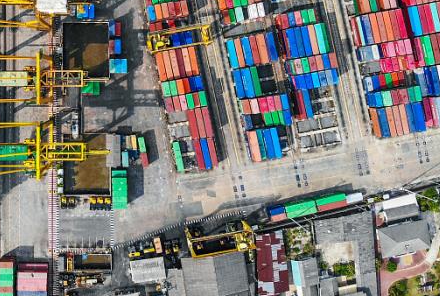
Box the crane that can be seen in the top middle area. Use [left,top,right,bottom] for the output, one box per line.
[143,23,214,60]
